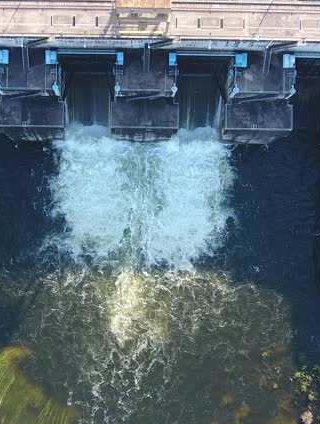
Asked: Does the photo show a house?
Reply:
No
